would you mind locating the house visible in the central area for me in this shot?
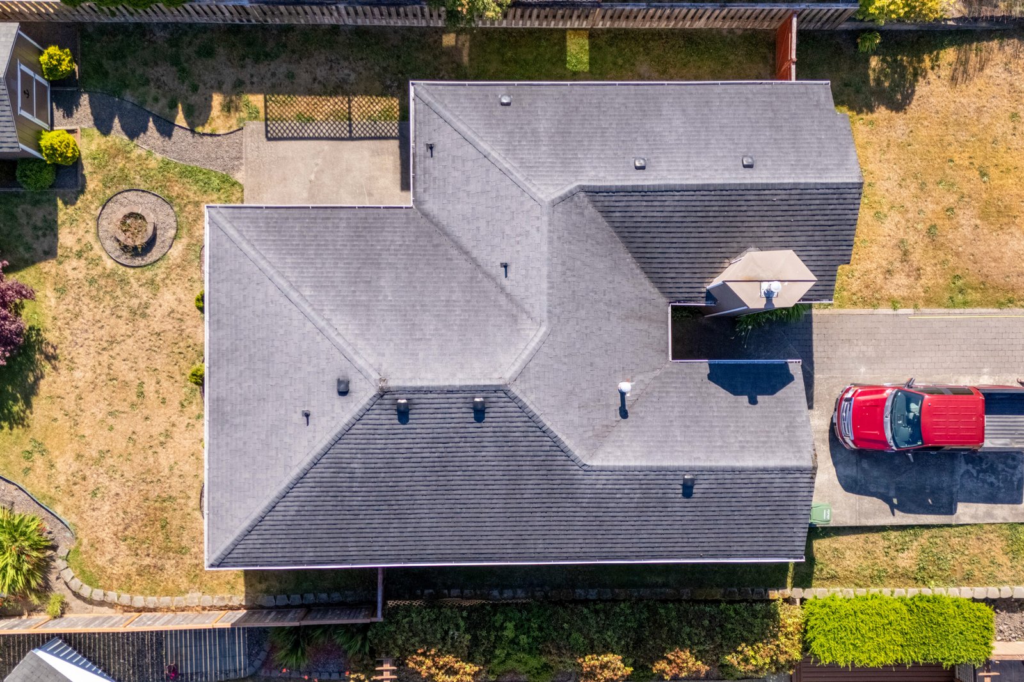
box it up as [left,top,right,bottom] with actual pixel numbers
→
[205,79,862,570]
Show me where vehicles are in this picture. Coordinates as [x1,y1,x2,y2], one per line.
[830,379,1024,459]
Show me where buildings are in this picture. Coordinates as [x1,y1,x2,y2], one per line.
[0,22,51,158]
[205,79,862,570]
[2,638,115,682]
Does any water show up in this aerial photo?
No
